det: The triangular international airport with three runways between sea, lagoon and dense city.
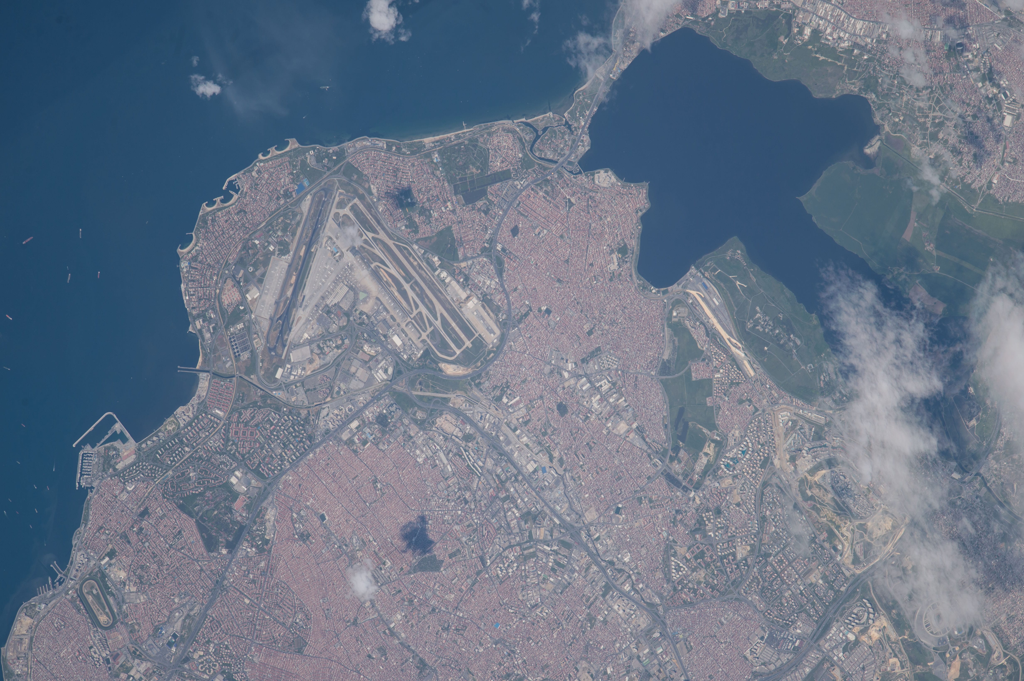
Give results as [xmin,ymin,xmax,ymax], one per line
[253,178,498,381]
